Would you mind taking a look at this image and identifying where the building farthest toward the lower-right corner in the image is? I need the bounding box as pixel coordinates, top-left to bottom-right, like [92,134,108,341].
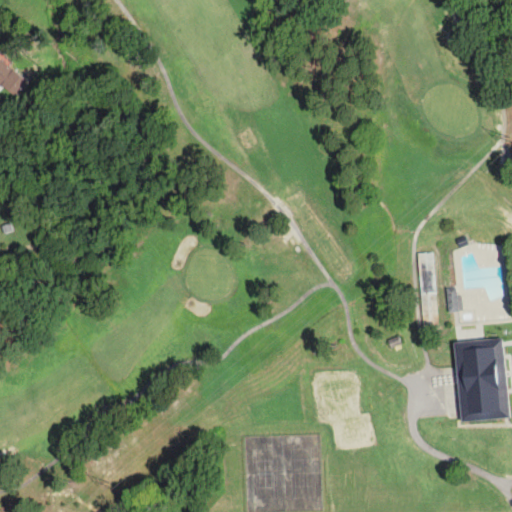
[454,338,509,422]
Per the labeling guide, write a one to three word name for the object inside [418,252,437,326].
shed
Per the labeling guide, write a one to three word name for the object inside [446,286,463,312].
building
